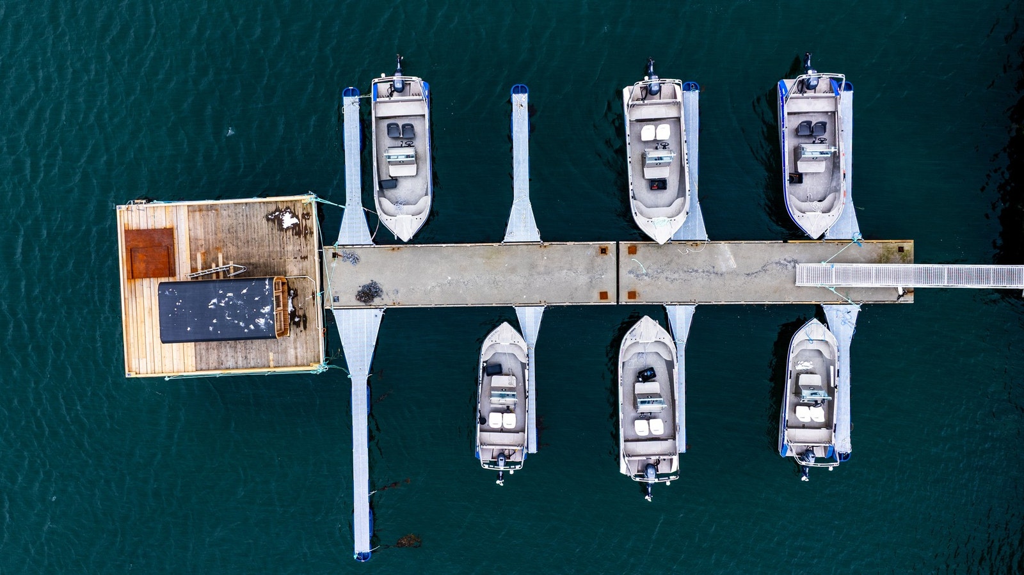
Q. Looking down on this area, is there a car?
No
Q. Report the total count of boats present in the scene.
6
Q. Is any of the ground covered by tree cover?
No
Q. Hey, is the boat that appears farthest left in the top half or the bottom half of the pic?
top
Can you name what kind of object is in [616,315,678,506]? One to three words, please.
boat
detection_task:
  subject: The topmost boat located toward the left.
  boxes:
[373,51,435,242]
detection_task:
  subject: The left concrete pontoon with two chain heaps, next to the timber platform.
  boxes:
[324,240,623,311]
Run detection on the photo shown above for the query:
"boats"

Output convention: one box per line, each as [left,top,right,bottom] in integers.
[477,322,529,493]
[616,315,678,506]
[778,47,845,240]
[779,318,837,487]
[373,51,435,242]
[623,54,686,245]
